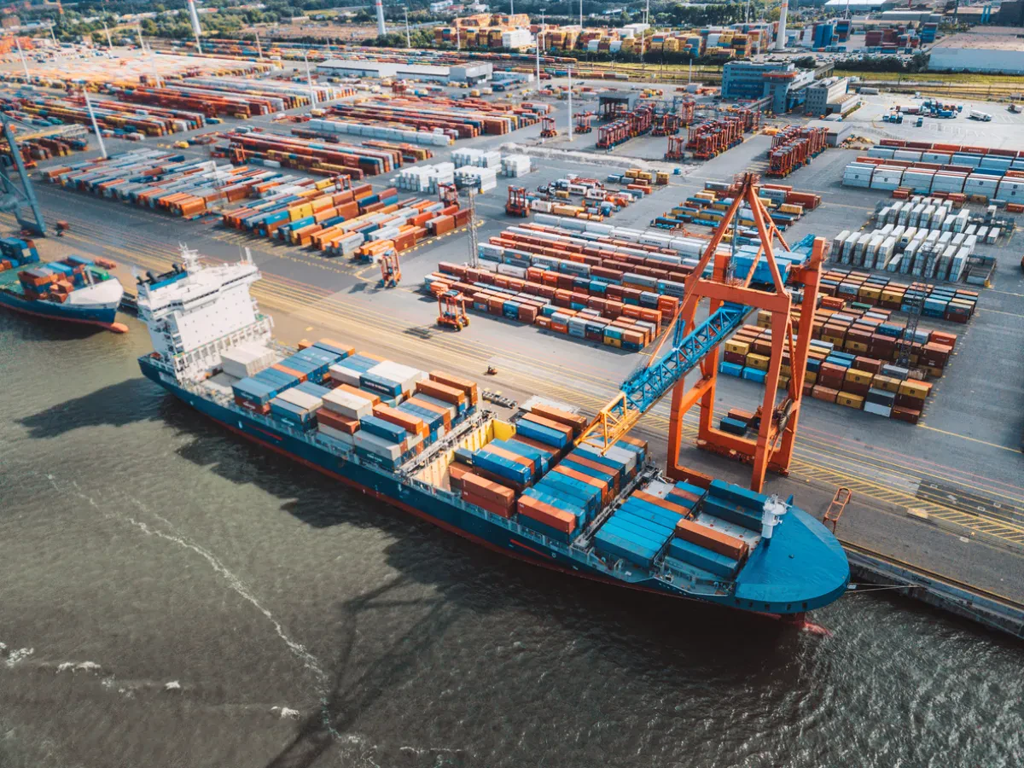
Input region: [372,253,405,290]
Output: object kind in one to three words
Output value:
work vehicle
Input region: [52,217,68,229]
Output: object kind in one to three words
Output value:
vehicle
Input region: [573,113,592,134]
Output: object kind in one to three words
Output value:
work vehicle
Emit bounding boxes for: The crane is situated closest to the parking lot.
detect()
[567,164,826,492]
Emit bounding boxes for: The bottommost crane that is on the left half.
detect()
[0,89,107,247]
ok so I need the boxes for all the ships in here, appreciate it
[123,239,916,634]
[0,246,131,333]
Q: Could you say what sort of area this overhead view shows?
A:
port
